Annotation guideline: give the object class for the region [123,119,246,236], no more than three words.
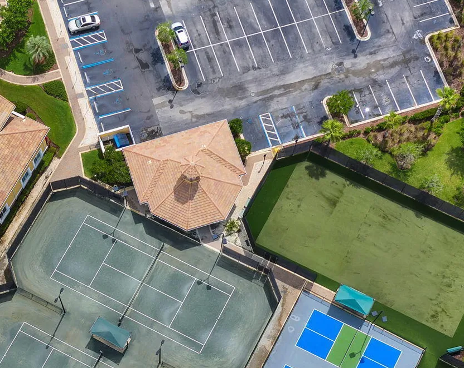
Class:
gazebo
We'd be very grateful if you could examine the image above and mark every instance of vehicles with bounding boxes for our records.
[171,22,192,48]
[69,15,101,33]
